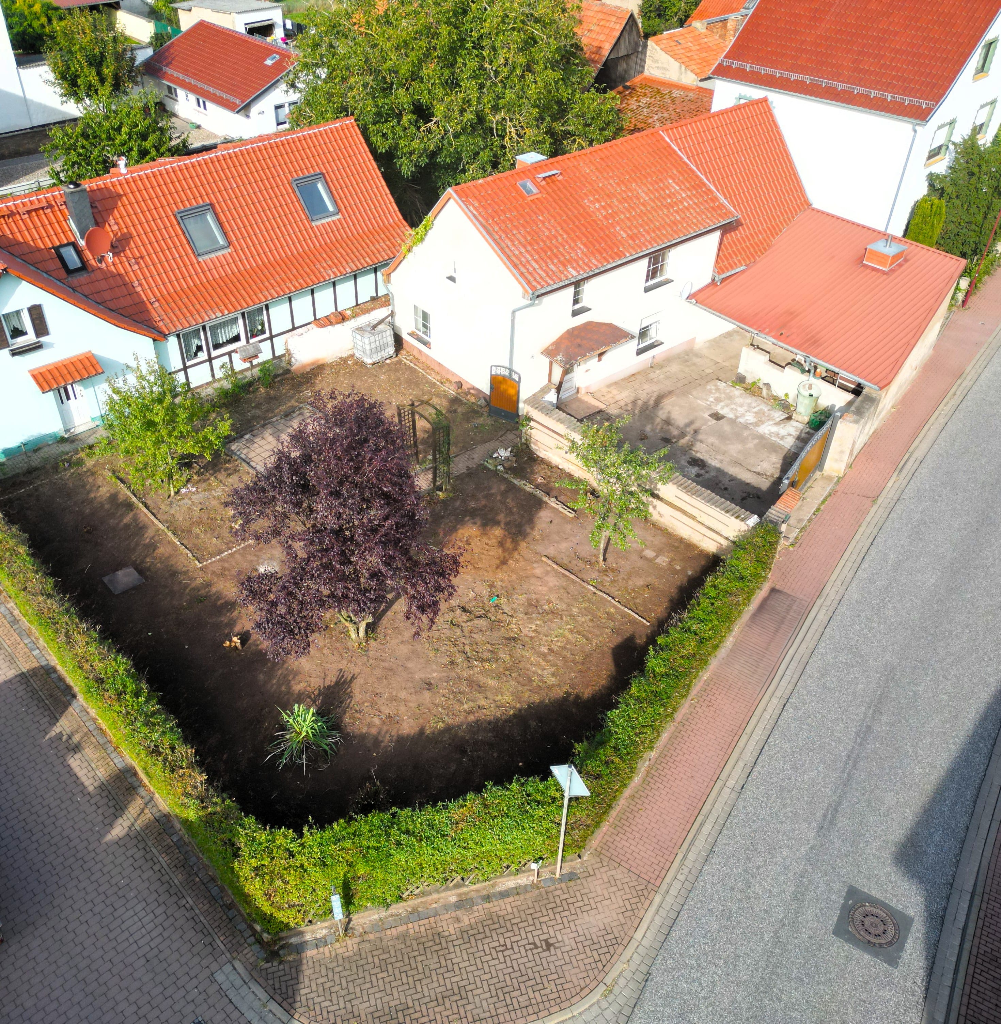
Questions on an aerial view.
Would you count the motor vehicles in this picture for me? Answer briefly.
0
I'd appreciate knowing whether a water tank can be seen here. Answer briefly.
Yes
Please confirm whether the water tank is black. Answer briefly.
No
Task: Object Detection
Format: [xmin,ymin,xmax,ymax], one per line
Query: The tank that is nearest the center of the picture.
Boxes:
[347,315,395,366]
